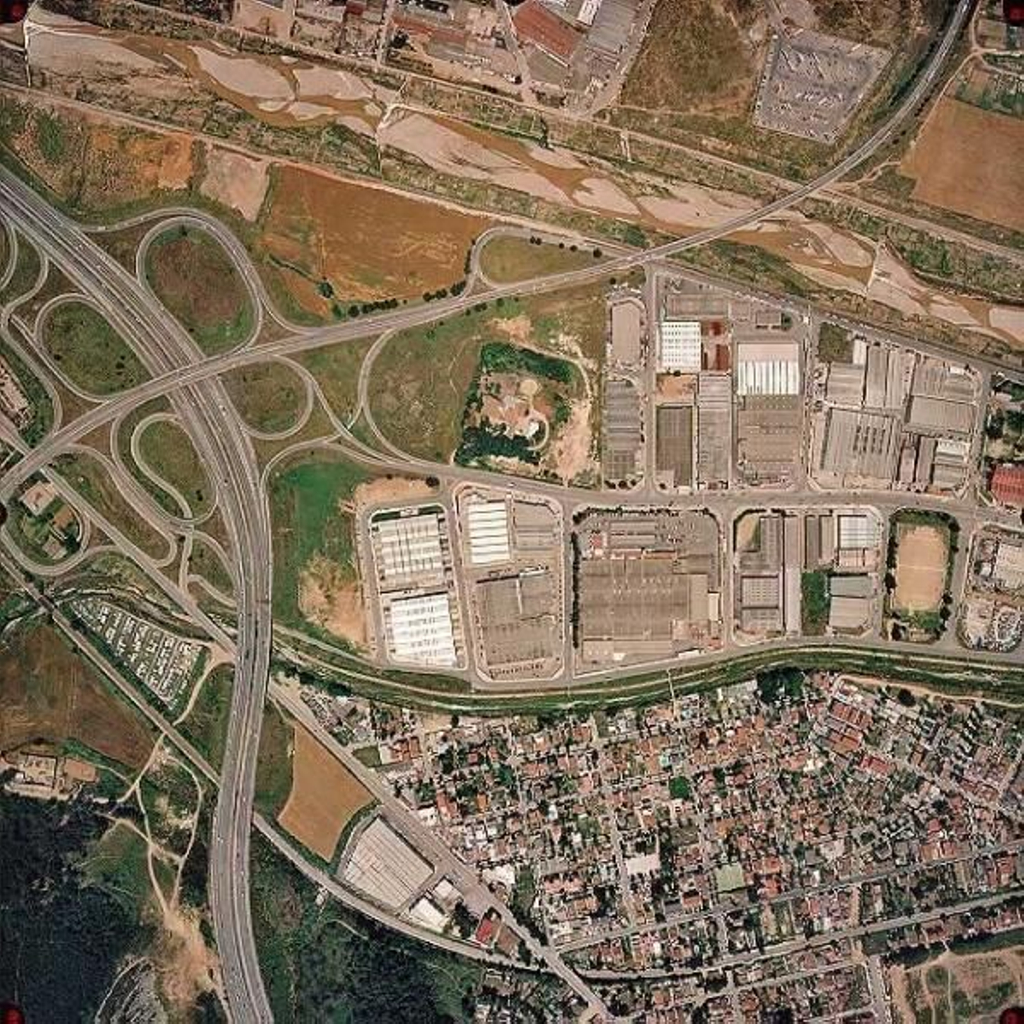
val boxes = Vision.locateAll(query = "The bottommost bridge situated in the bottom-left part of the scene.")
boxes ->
[216,775,256,810]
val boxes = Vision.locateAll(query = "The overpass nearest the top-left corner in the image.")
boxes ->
[146,355,226,398]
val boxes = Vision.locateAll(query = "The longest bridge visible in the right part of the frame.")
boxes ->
[639,171,831,261]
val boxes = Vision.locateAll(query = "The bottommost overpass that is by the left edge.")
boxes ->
[15,445,52,478]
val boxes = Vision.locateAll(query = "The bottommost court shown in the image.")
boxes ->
[717,864,746,895]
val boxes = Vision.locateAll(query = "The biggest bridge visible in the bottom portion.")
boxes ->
[232,612,272,698]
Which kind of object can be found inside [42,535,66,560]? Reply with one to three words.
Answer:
house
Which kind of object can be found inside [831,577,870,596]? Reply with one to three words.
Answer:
building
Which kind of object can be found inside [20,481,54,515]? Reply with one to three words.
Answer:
house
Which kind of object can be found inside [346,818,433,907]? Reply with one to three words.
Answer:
building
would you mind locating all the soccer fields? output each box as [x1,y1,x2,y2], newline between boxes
[894,525,948,609]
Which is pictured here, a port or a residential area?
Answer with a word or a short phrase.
residential area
